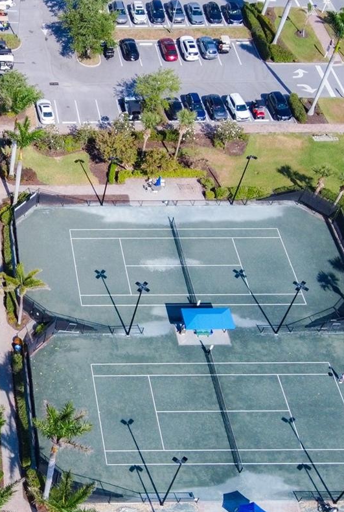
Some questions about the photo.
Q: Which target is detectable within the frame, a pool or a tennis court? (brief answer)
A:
tennis court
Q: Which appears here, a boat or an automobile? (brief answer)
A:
automobile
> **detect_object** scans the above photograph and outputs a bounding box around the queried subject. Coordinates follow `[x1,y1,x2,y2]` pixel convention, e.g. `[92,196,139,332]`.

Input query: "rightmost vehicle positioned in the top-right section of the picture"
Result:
[268,89,292,117]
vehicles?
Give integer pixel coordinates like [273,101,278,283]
[186,1,204,22]
[199,35,219,57]
[0,48,13,63]
[149,0,167,21]
[0,38,7,48]
[163,89,184,117]
[103,39,116,58]
[168,0,187,21]
[36,97,54,121]
[217,30,233,50]
[181,37,200,59]
[121,36,140,59]
[160,37,179,59]
[0,55,14,71]
[268,89,292,117]
[202,1,221,21]
[228,90,251,118]
[0,0,14,8]
[120,87,142,118]
[111,0,130,22]
[207,90,231,118]
[0,14,10,31]
[251,97,265,116]
[186,89,207,117]
[130,0,148,22]
[221,0,241,22]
